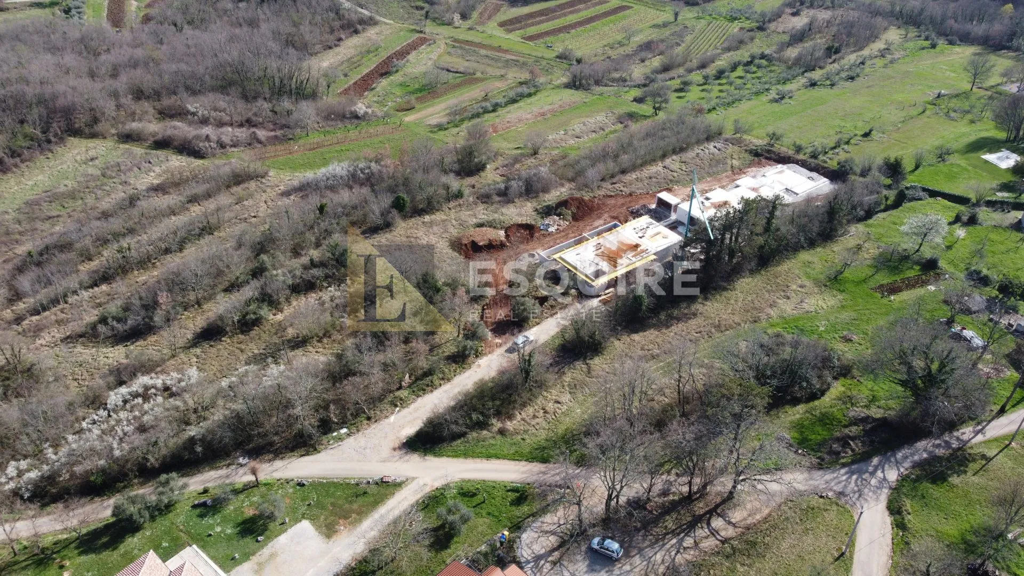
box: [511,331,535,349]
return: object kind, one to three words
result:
car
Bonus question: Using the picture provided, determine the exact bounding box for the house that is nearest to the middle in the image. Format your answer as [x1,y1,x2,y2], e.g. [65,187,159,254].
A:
[554,217,684,295]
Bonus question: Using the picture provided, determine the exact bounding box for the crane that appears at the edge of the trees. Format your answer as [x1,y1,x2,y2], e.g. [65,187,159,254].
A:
[679,160,708,238]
